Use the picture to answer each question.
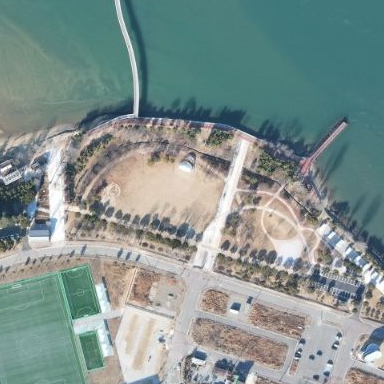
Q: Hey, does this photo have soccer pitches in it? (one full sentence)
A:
Yes, a soccer pitch can be made out from above.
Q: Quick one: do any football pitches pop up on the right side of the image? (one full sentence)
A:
No, on the right side of the image there is no football pitch.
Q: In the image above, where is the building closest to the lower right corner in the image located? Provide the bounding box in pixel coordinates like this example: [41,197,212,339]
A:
[353,342,383,362]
